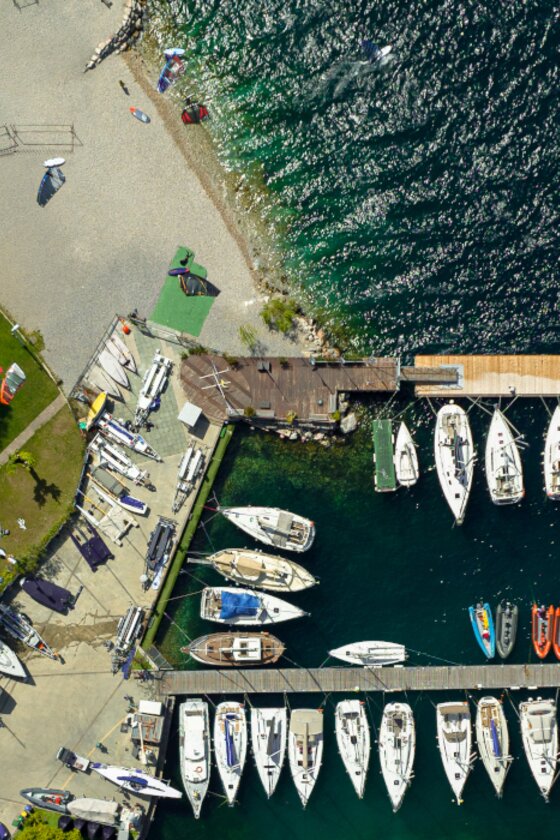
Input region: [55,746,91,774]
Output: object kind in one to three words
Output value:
truck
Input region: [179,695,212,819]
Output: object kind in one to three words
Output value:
boat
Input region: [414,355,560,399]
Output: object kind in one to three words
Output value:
pier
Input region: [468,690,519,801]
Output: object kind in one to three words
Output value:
boat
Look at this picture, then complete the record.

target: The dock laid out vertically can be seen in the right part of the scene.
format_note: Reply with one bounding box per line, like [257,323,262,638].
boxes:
[373,421,397,491]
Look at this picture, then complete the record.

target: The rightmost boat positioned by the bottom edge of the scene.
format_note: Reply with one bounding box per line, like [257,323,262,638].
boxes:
[506,688,560,806]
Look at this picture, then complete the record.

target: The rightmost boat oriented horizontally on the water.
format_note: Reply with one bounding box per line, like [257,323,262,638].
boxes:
[319,641,424,669]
